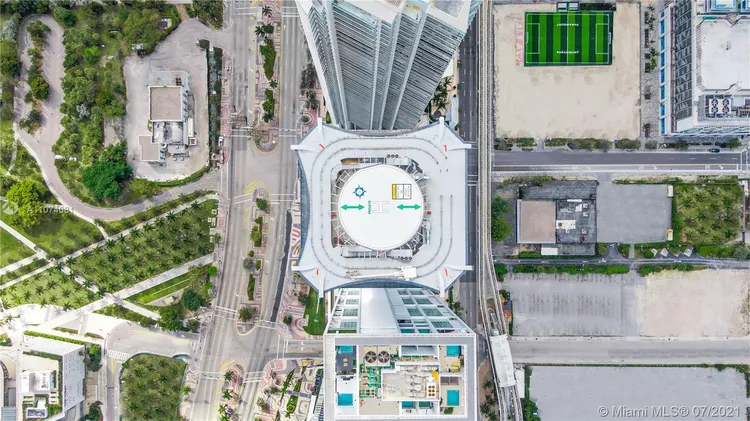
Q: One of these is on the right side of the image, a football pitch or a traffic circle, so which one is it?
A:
football pitch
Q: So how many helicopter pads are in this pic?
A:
1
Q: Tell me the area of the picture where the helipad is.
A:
center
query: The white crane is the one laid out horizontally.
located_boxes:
[346,267,417,281]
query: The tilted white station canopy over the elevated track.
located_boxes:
[489,306,524,421]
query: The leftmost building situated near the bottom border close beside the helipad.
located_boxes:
[324,288,479,421]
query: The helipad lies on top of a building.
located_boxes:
[333,158,428,256]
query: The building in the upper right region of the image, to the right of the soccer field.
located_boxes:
[656,0,750,140]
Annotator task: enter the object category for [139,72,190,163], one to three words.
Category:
building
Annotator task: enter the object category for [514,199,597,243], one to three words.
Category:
building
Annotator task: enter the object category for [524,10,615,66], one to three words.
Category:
soccer field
